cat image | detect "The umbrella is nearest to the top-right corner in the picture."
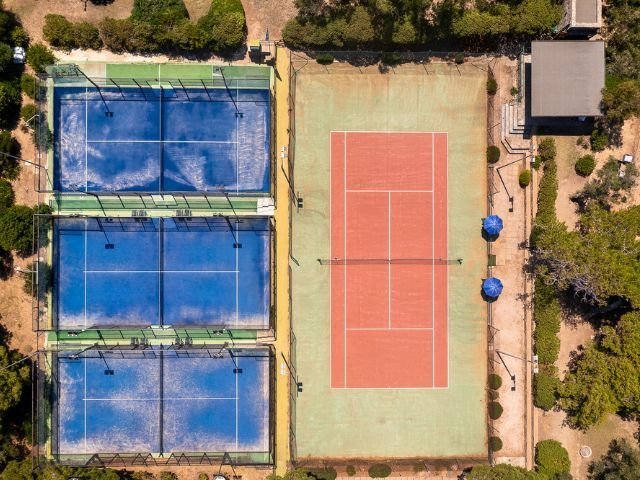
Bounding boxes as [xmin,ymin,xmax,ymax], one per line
[482,214,503,234]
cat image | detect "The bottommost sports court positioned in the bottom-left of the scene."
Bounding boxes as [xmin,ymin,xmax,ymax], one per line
[51,344,271,455]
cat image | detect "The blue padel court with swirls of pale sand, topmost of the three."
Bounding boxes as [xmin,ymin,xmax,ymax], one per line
[51,86,271,195]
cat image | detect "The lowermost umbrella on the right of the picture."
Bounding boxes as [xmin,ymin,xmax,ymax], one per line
[482,277,502,297]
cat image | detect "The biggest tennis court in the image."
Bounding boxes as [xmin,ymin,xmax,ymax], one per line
[292,59,488,458]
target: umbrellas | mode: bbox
[482,214,503,234]
[482,277,502,297]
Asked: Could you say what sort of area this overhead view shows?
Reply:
sports ground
